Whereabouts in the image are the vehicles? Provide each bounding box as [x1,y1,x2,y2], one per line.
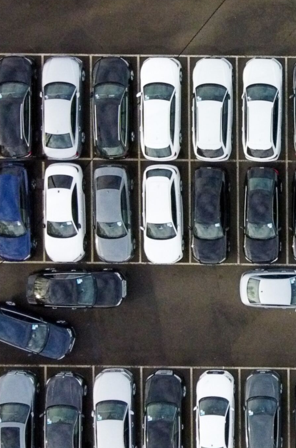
[0,164,37,261]
[137,164,185,263]
[39,163,89,263]
[238,166,285,264]
[88,165,136,263]
[37,56,87,159]
[39,371,89,448]
[185,166,233,264]
[136,57,183,160]
[238,58,285,162]
[241,269,296,310]
[0,298,80,359]
[86,57,134,158]
[191,370,238,448]
[138,370,185,448]
[240,368,286,448]
[187,57,235,162]
[89,367,139,448]
[0,371,42,448]
[0,56,42,157]
[27,266,127,315]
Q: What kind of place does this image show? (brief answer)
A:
parking lot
